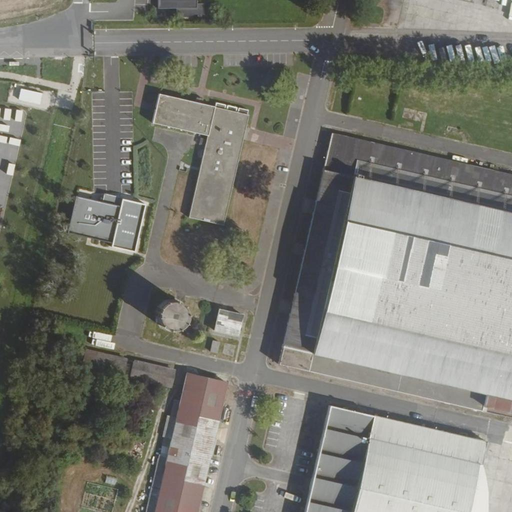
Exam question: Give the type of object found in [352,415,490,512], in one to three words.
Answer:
hangar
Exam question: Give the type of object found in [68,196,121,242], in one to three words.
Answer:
building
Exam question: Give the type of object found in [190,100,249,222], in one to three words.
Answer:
building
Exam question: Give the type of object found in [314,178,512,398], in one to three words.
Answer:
hangar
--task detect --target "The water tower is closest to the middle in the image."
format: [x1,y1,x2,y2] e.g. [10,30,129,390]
[159,300,192,334]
